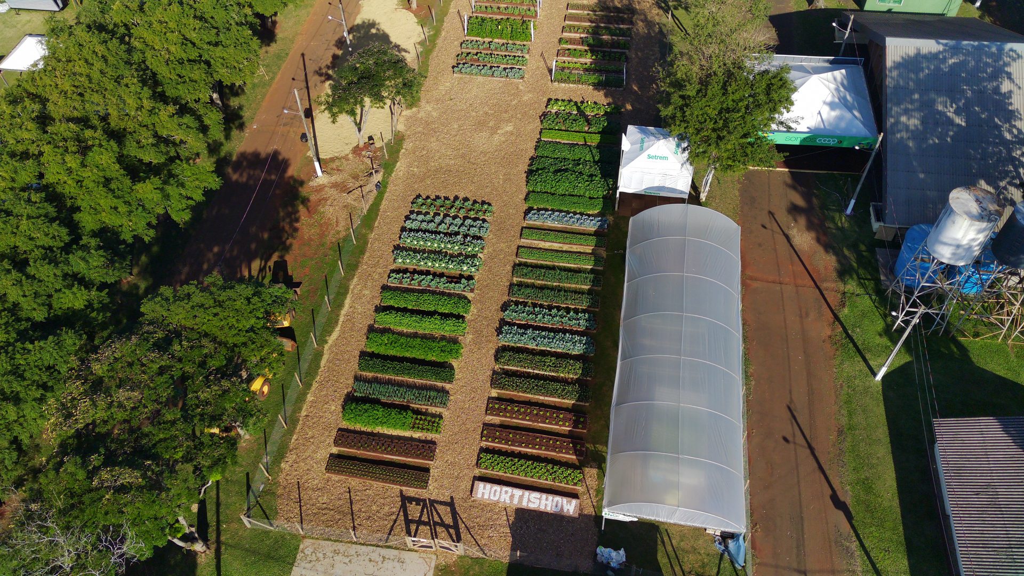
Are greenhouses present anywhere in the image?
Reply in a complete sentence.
Yes, there's a greenhouse here.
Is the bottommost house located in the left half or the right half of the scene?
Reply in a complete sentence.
You can find the bottommost house on the right side of the picture.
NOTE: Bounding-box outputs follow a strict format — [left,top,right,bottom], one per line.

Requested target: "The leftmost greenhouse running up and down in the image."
[600,202,746,537]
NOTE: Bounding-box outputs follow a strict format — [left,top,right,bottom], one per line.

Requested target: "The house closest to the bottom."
[924,419,1024,576]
